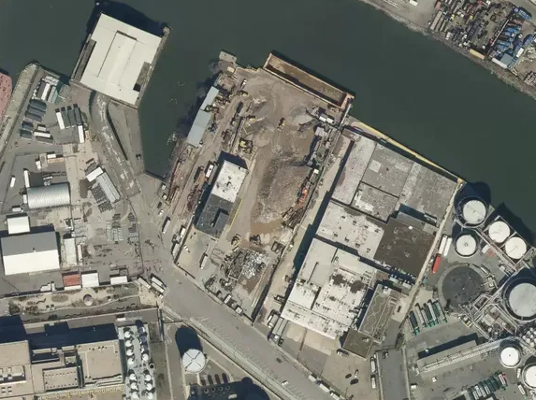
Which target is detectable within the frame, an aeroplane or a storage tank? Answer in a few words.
storage tank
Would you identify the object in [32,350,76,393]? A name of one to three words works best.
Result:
building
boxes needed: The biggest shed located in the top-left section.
[80,13,161,105]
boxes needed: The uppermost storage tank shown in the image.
[456,194,491,228]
